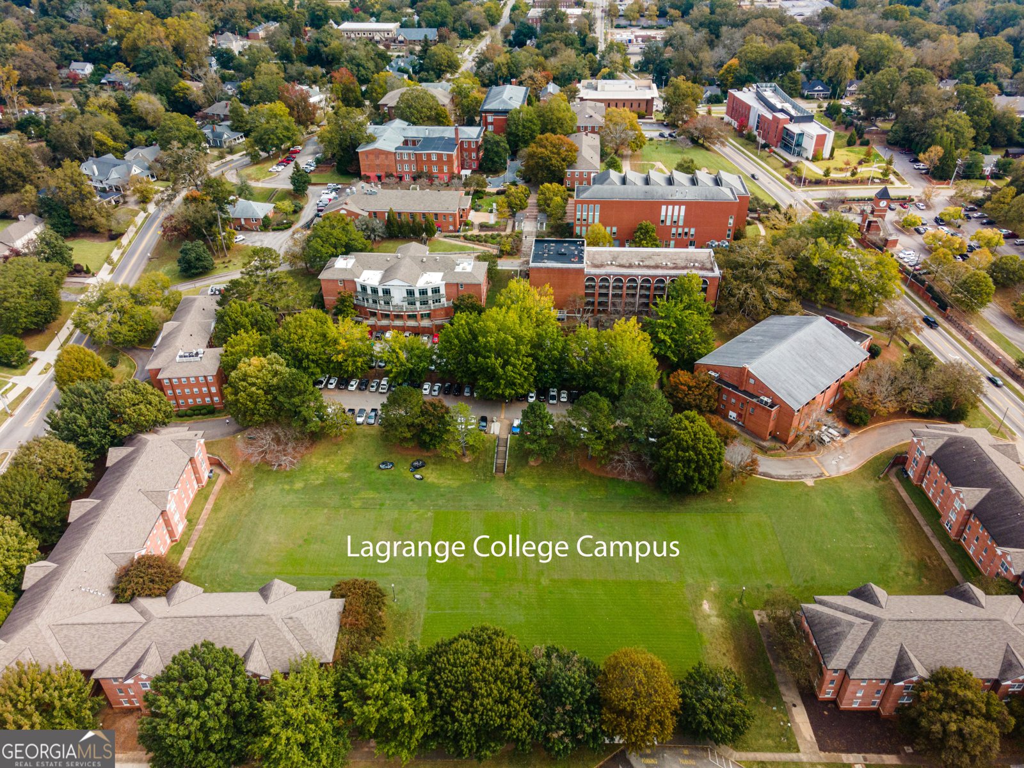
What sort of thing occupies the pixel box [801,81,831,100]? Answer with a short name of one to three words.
house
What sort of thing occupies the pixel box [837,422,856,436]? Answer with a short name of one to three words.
car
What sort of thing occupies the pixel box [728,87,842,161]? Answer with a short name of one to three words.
building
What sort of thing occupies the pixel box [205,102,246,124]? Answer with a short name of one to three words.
house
